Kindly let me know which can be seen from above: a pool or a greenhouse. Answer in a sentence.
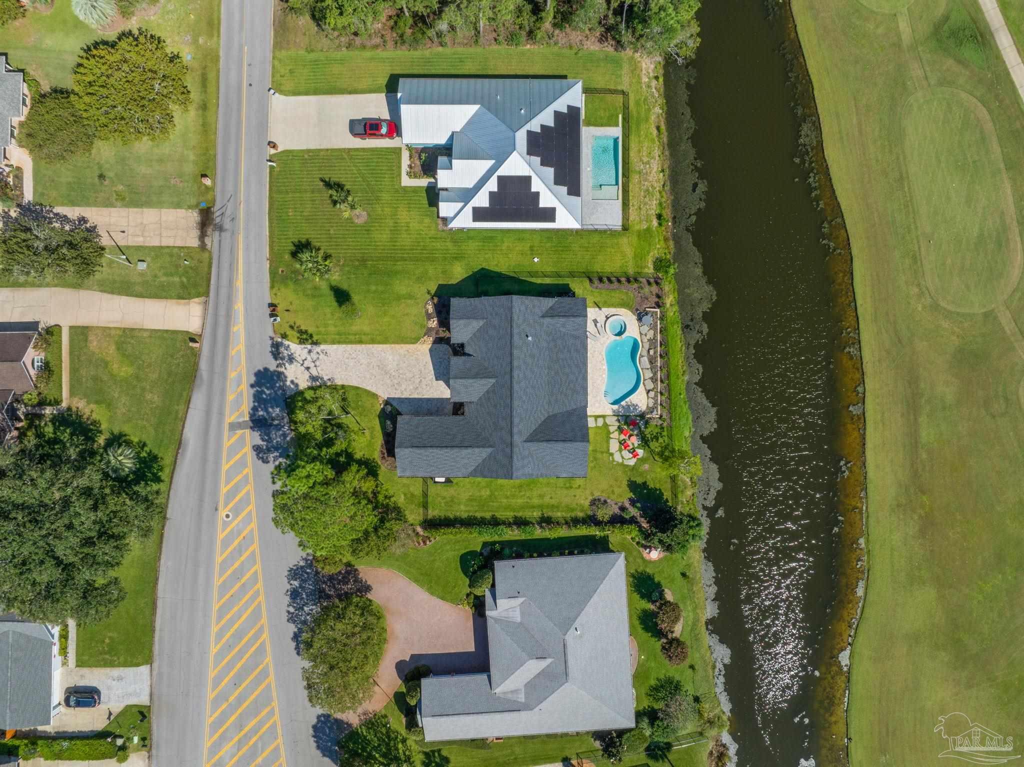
The image shows a pool.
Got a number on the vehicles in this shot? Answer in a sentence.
The number of vehicles here is 2.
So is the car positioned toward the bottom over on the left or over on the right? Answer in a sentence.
It is on the left.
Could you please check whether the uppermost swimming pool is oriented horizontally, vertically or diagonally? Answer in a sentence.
The uppermost swimming pool is oriented vertically.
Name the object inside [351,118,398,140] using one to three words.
truck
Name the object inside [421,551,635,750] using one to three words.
house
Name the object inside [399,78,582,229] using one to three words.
house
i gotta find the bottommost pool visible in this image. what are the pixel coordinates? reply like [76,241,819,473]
[602,334,643,407]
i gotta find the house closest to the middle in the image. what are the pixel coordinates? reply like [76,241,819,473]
[395,296,589,479]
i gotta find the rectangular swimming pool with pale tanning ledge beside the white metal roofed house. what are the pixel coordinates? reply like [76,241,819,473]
[590,134,621,201]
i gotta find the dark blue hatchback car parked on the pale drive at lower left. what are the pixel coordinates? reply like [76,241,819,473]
[64,694,101,714]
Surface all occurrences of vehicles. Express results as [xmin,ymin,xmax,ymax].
[351,118,398,140]
[64,694,101,714]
